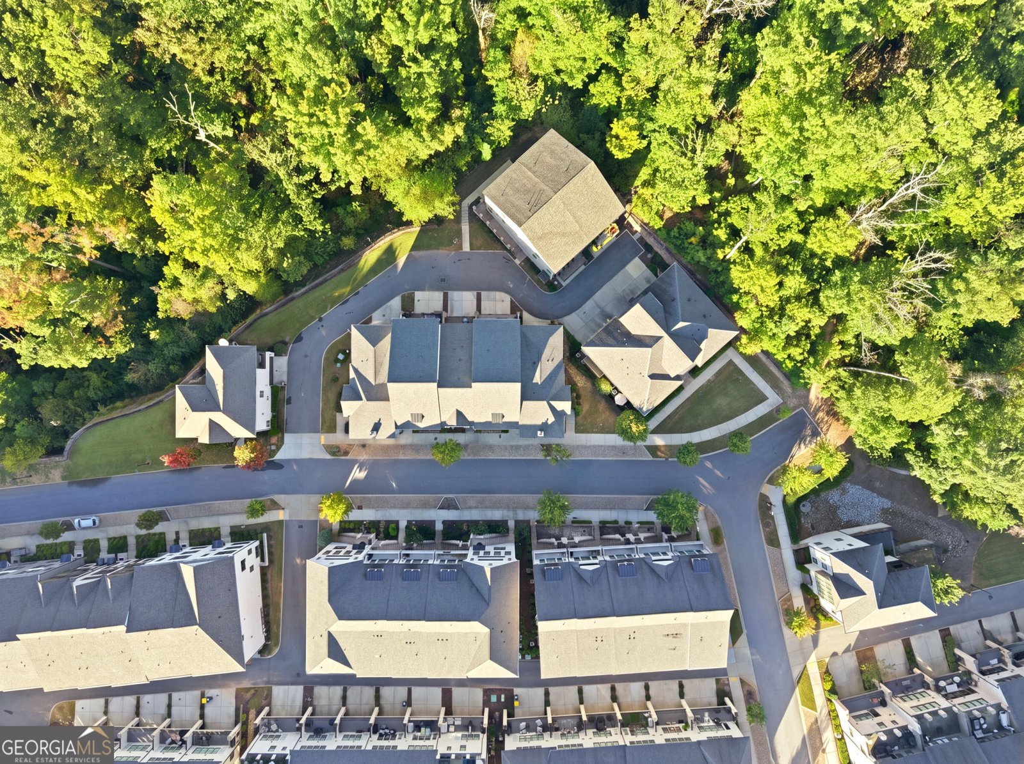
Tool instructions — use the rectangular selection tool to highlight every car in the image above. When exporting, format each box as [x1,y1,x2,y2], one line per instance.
[74,517,100,529]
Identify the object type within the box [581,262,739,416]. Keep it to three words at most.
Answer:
house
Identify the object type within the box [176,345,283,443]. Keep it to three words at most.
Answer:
house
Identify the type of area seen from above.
residential area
